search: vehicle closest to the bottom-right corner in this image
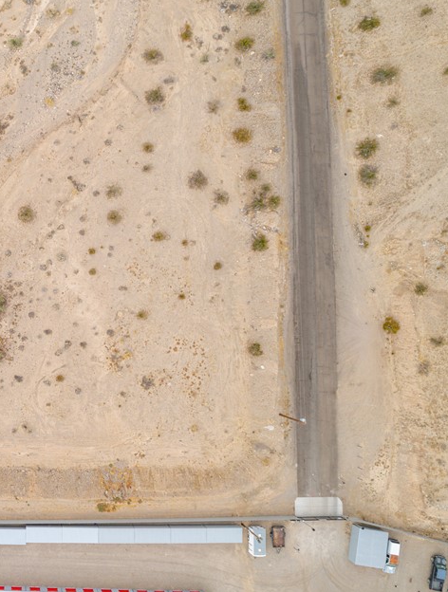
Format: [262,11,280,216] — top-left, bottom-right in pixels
[431,554,448,592]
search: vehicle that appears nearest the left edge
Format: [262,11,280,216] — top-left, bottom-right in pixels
[247,523,267,559]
